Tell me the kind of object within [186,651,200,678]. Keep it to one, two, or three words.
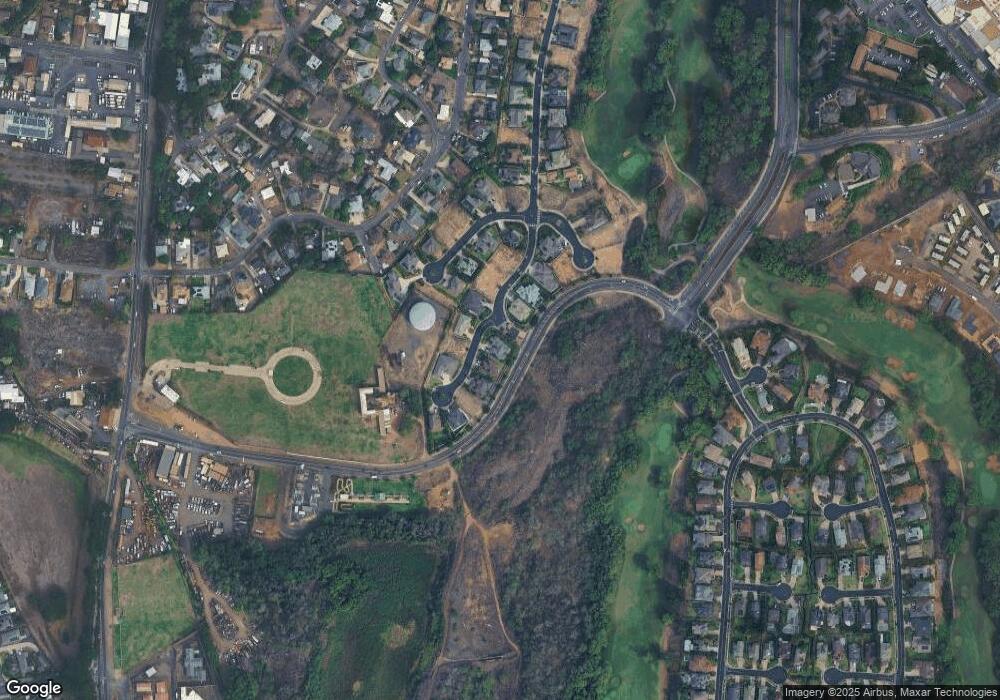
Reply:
building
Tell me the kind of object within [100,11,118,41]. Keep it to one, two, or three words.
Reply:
building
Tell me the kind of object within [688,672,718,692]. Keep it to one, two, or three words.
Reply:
house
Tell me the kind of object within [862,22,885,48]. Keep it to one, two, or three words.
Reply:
house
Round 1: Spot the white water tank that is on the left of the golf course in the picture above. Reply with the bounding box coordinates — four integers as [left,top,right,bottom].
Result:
[408,302,441,329]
